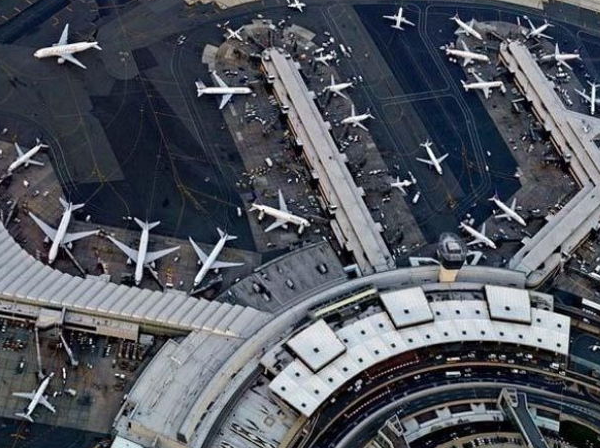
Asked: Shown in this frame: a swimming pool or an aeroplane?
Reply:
aeroplane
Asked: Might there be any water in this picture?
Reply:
No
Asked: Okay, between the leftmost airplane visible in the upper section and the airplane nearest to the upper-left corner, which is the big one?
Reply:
the airplane nearest to the upper-left corner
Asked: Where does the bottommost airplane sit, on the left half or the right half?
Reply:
left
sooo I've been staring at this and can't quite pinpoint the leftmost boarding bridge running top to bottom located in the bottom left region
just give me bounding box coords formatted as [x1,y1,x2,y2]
[33,324,47,380]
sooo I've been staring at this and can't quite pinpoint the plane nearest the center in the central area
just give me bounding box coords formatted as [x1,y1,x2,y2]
[248,189,310,234]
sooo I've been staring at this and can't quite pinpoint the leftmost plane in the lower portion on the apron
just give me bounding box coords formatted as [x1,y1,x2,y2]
[15,374,61,420]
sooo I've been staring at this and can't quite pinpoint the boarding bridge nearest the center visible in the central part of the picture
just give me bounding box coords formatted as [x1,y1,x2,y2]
[309,214,331,228]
